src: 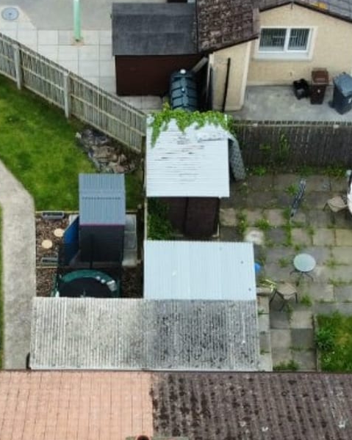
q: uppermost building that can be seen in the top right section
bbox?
[200,0,352,109]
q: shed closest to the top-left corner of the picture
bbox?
[114,1,203,94]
